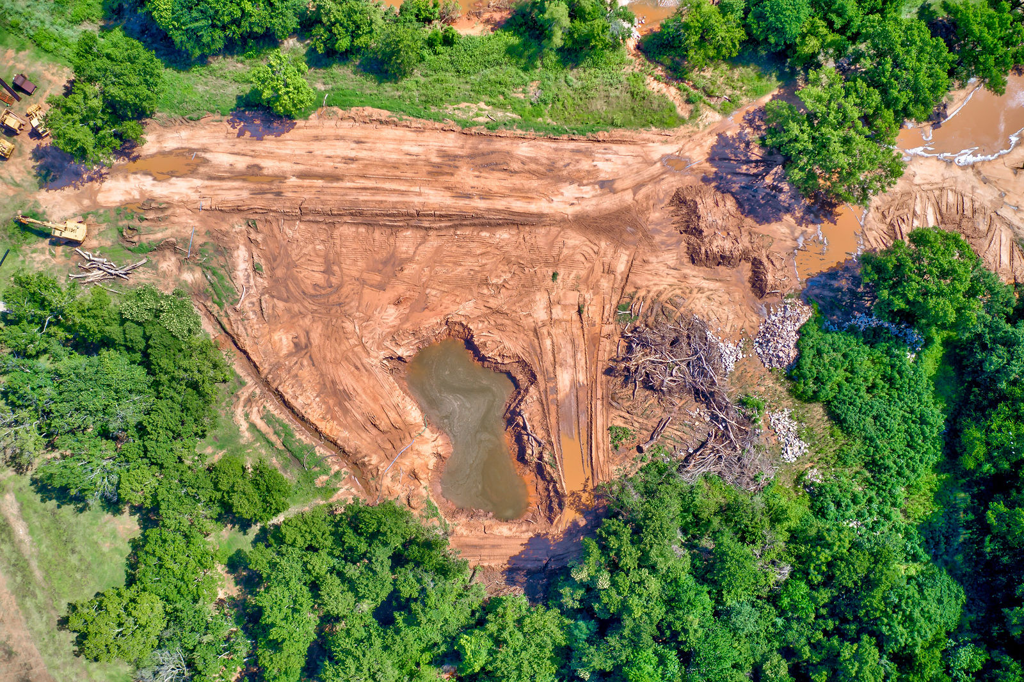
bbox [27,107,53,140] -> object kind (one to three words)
work vehicle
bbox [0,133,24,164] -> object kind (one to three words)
work vehicle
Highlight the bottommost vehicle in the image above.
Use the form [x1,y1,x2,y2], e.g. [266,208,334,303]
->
[24,217,95,248]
